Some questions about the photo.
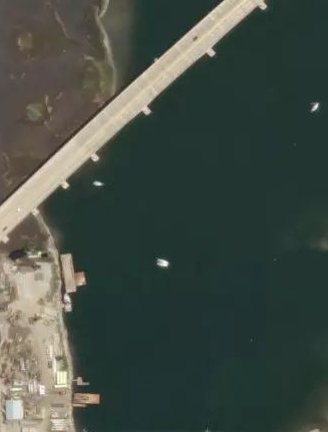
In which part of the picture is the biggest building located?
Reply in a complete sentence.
You can find the biggest building in the bottom left area of the picture.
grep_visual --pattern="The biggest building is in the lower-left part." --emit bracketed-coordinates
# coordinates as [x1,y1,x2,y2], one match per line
[4,399,27,423]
